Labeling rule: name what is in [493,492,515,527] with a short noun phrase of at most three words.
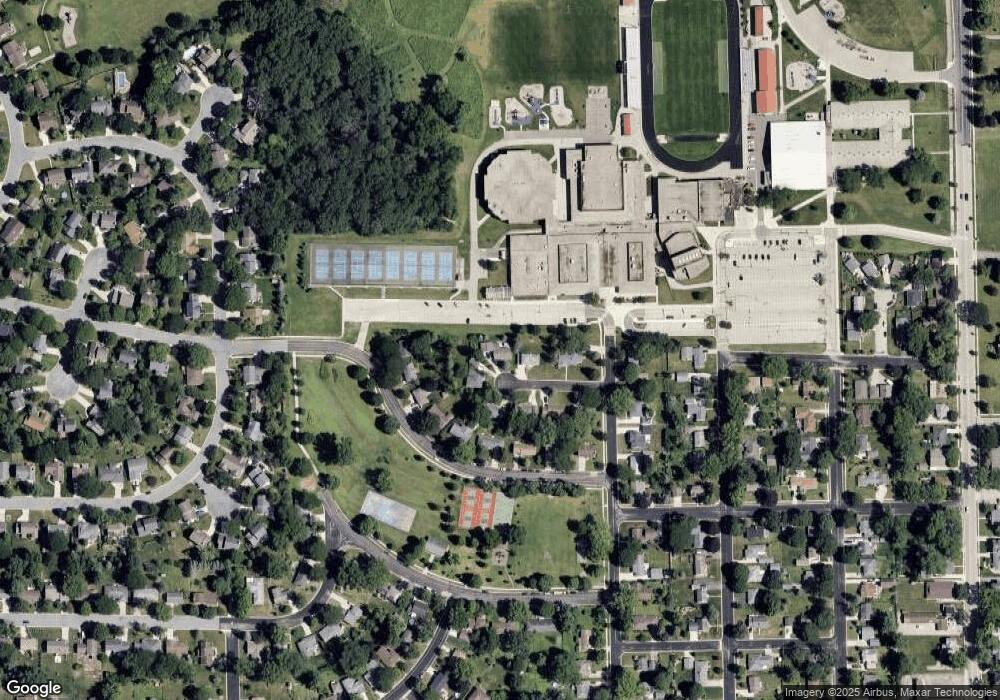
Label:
tennis court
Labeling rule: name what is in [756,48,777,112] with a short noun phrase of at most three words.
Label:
building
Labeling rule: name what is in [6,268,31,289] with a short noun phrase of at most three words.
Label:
house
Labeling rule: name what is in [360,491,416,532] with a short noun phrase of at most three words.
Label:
basketball court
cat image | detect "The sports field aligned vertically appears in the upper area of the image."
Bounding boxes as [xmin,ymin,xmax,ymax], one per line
[653,0,729,160]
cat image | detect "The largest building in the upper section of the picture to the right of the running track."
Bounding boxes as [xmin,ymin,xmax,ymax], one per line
[764,104,831,189]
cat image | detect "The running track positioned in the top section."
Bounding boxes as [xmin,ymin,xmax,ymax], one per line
[641,0,742,172]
